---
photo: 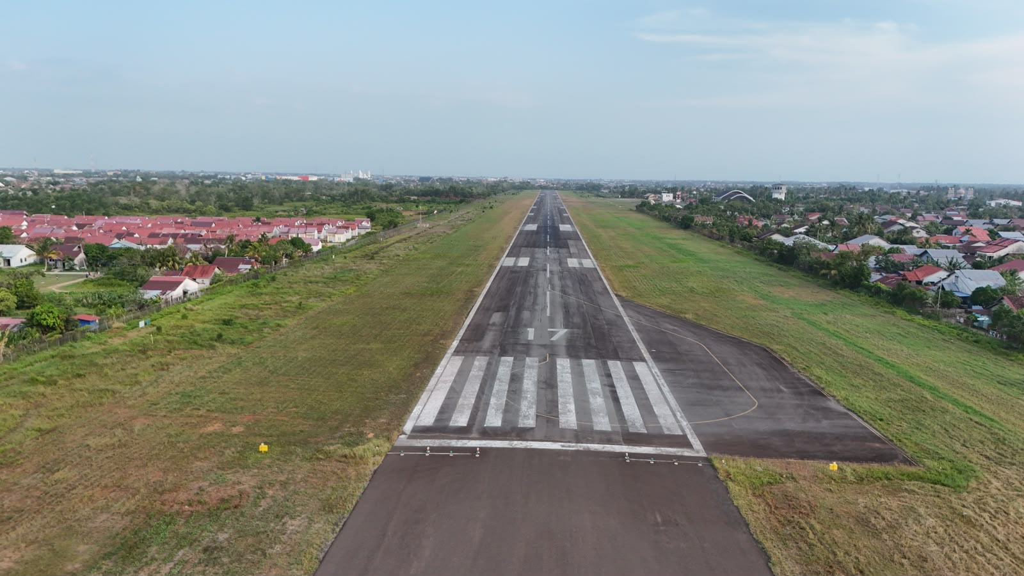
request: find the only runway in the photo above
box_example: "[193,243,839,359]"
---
[401,190,707,450]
